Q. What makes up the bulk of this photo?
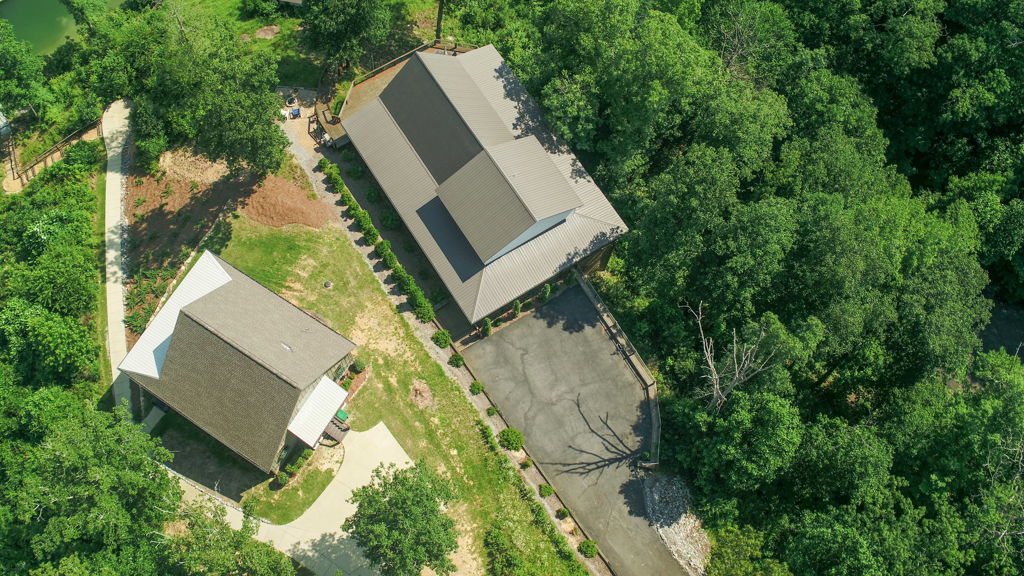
trees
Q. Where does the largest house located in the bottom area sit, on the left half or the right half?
left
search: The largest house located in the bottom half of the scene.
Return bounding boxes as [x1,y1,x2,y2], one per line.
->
[117,249,361,476]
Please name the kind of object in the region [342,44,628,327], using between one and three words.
house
